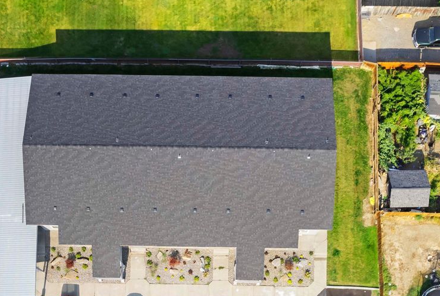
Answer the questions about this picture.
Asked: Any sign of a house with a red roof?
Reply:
No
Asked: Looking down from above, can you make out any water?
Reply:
No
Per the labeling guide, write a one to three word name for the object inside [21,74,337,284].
house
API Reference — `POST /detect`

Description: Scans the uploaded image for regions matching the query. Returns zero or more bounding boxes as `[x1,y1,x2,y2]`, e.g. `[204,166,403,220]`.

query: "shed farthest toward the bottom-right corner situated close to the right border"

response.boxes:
[386,169,430,210]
